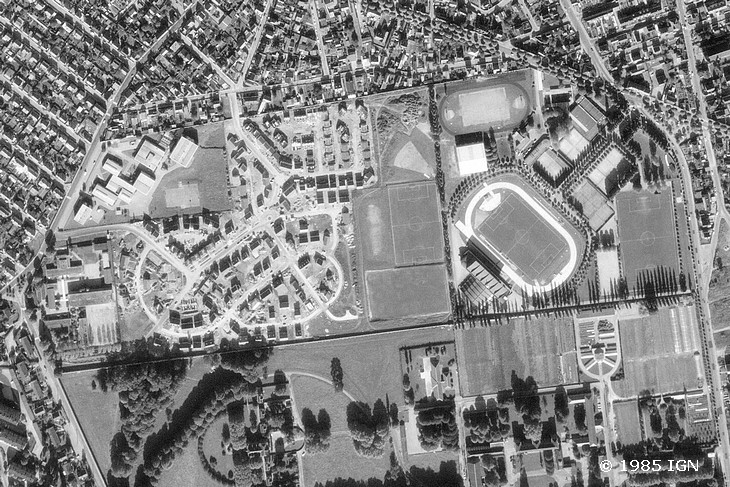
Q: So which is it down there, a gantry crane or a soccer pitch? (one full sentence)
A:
The image shows a soccer pitch.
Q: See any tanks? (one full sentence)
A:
No, the scene contains no tank.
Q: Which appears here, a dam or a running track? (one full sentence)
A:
It is a running track that can be seen here.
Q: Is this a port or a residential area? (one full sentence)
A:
This looks like a residential area.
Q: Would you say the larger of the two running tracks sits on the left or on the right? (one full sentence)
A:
You can find the larger of the two running tracks on the right side of the picture.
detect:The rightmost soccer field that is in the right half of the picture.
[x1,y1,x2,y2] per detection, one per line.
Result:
[617,191,684,288]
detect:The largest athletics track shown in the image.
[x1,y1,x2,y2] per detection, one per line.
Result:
[454,173,587,305]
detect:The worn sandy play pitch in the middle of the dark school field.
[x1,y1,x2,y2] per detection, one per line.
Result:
[165,182,200,208]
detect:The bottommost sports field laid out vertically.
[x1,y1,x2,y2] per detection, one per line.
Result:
[597,248,622,297]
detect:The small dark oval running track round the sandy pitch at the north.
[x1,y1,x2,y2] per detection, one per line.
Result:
[441,81,530,135]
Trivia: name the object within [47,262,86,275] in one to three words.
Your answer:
building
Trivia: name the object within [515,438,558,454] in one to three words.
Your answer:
house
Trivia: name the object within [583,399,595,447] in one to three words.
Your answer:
house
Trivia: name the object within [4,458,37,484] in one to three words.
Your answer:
building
